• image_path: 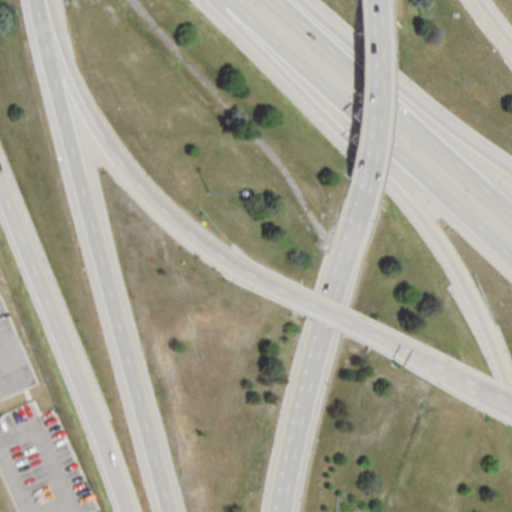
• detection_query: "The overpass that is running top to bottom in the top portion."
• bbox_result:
[340,0,400,214]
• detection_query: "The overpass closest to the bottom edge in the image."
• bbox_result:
[279,278,386,354]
